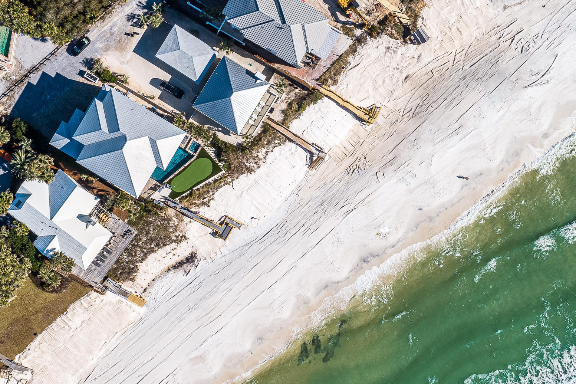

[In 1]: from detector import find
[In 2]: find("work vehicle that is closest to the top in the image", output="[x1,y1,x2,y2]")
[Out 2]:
[335,0,375,33]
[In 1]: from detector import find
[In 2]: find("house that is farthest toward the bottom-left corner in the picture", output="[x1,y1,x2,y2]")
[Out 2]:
[8,170,122,270]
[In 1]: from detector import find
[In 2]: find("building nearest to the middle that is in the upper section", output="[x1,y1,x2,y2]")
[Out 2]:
[192,57,286,135]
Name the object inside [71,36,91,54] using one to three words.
car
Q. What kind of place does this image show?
beach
